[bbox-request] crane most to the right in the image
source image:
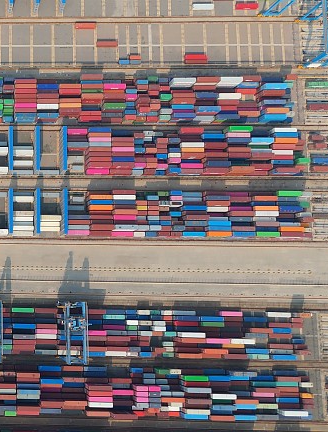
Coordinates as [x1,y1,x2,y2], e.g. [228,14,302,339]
[292,0,328,68]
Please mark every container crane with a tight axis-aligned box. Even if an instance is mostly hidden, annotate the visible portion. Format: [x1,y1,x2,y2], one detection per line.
[0,301,5,364]
[257,0,299,16]
[292,0,328,68]
[53,301,90,366]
